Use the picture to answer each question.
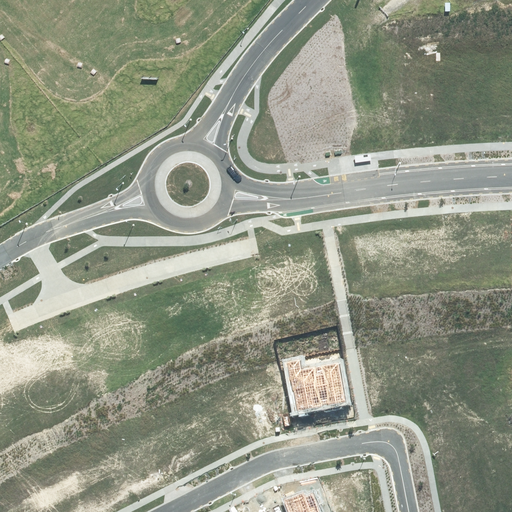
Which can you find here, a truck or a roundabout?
roundabout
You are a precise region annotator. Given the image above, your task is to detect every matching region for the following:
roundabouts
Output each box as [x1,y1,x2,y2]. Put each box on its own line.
[140,136,236,232]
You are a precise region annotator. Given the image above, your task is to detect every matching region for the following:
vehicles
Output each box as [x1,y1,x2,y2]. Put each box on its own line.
[226,166,240,181]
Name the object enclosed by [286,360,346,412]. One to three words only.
house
